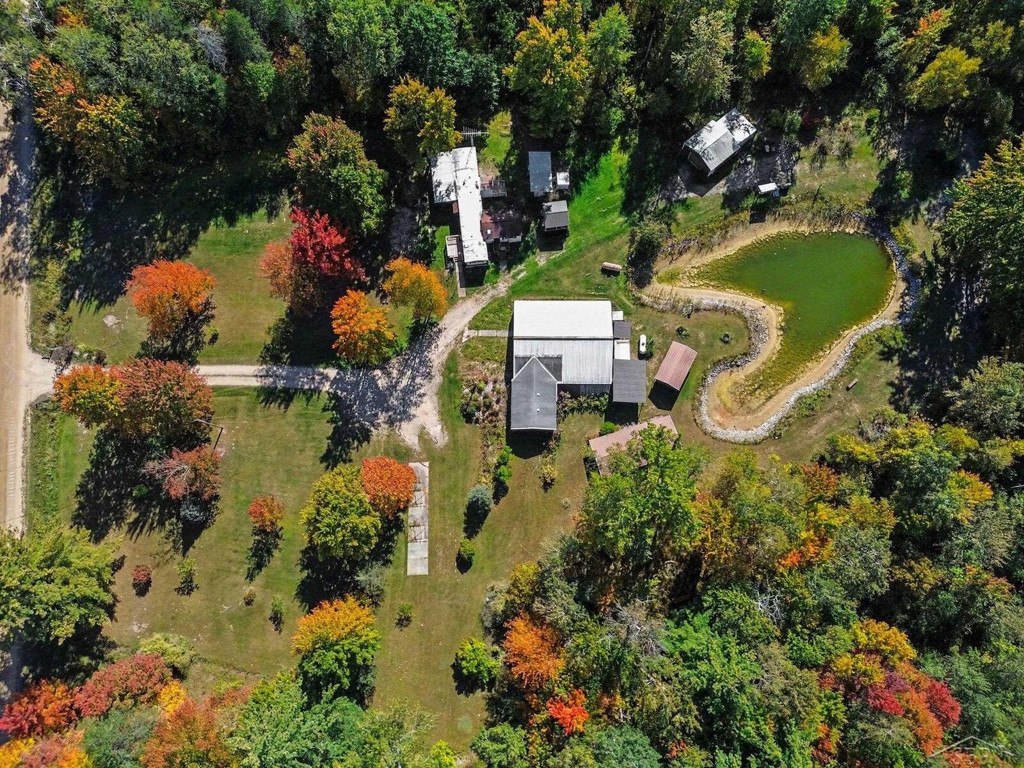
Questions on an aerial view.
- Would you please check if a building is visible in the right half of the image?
Yes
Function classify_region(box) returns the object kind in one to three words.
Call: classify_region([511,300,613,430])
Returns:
house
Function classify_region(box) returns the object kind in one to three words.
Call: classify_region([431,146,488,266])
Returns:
house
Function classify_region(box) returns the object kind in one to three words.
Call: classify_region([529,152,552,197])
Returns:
shed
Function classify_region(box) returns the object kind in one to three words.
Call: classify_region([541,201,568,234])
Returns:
shed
